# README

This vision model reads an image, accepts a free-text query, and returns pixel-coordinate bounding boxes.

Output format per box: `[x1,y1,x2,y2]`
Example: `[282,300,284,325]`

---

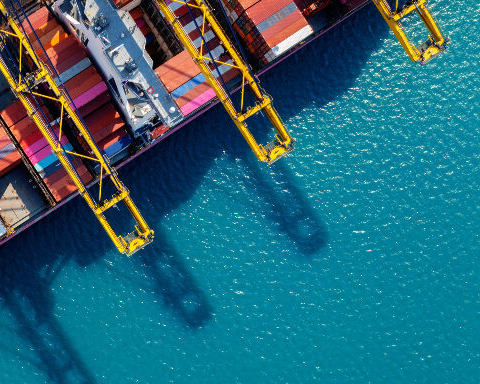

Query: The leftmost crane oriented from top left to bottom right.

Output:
[0,0,155,256]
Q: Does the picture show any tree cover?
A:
No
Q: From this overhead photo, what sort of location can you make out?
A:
port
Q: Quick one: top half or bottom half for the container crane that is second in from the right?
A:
top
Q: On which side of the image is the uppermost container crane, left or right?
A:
right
